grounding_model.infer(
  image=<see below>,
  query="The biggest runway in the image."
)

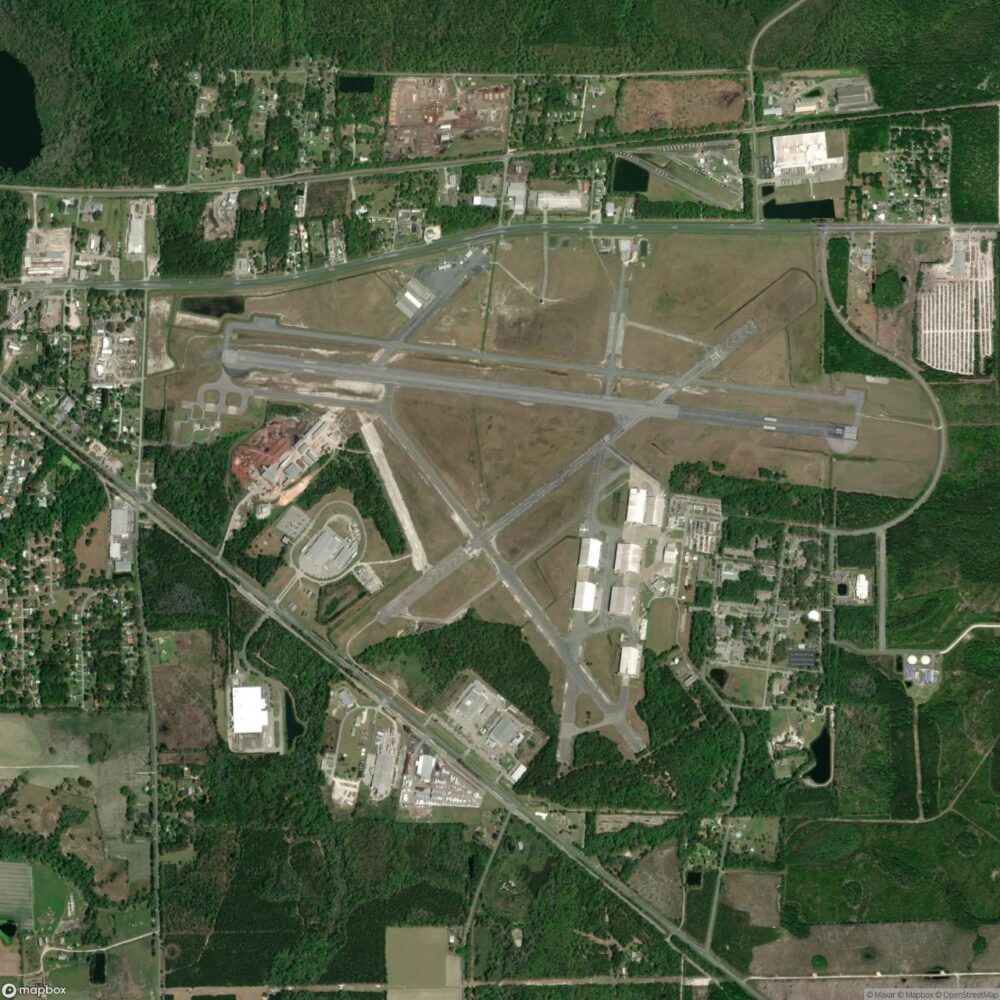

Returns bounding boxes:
[238,356,678,416]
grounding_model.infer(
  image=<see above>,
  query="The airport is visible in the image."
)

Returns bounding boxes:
[147,234,940,769]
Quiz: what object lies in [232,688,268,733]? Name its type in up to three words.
building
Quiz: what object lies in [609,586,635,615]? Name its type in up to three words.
hangar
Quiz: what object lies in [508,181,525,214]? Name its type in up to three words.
building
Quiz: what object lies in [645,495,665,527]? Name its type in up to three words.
hangar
